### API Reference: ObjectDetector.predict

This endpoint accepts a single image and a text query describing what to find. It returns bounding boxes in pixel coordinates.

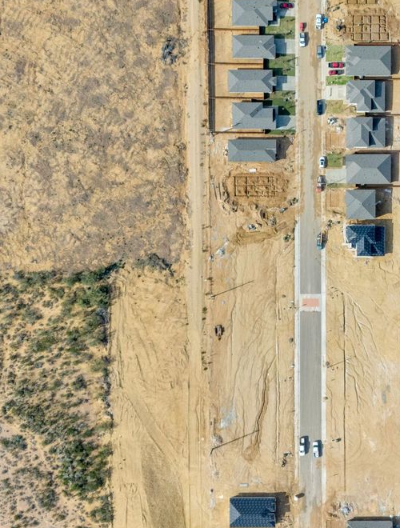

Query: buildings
[345,189,375,218]
[346,117,386,147]
[232,0,277,26]
[346,519,393,528]
[346,154,392,184]
[232,34,276,59]
[346,80,386,113]
[229,138,278,162]
[232,102,278,129]
[228,69,277,93]
[230,494,277,528]
[346,46,392,76]
[341,224,386,258]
